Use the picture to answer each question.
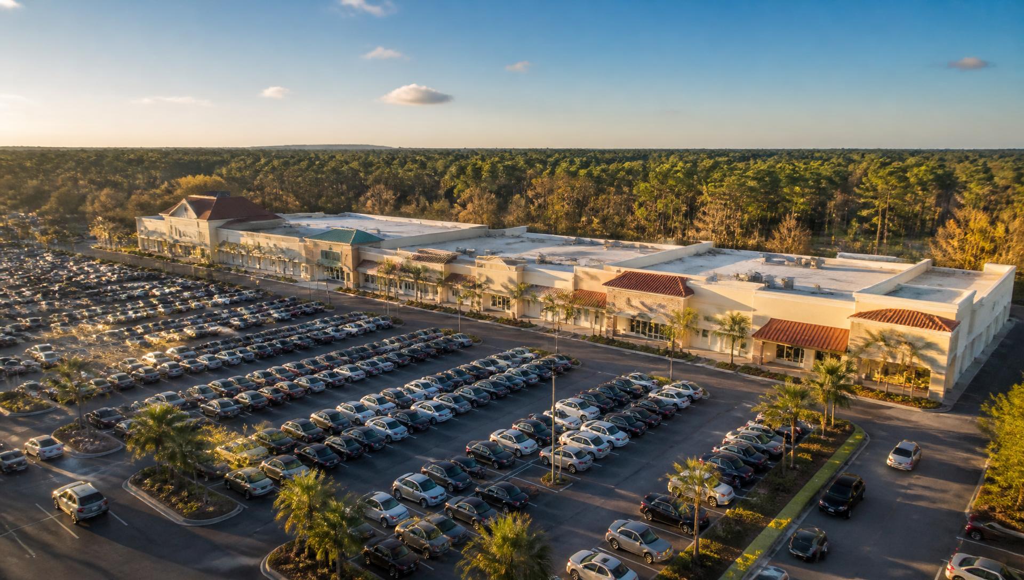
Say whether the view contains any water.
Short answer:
No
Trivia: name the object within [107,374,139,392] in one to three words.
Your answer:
car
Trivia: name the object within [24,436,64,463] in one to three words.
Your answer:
car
